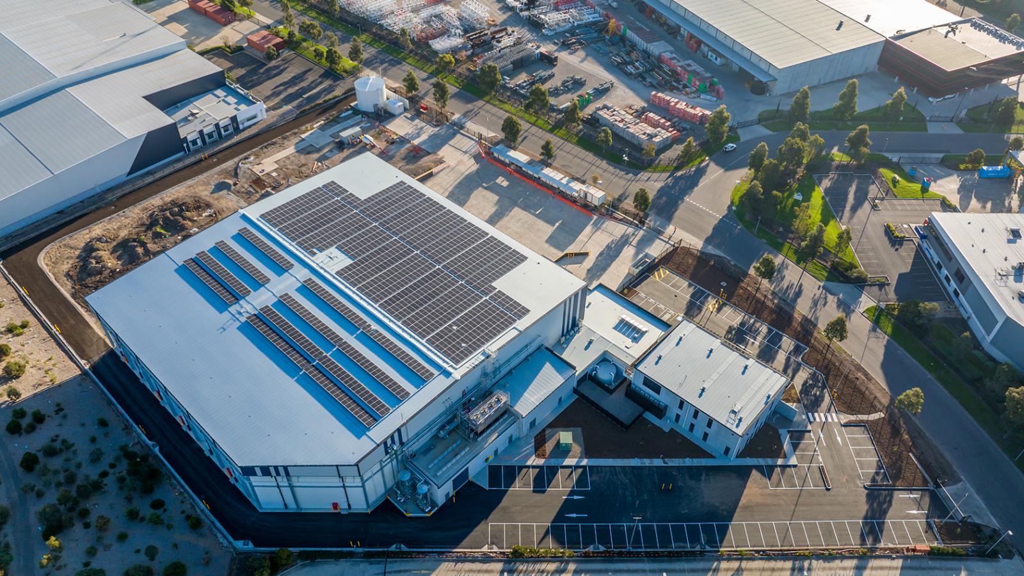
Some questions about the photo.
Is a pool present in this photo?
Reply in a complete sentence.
No, the picture doesn't show any pool.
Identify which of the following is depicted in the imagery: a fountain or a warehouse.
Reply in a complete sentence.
Looking from above, you can make out a warehouse.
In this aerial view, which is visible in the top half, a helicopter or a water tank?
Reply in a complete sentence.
You can see a water tank in the top half.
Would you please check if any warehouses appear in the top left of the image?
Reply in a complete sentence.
Yes, you'll find a warehouse in the top left of the image.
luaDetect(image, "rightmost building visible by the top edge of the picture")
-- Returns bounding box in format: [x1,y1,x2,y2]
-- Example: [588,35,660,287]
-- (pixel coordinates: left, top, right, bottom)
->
[876,15,1024,102]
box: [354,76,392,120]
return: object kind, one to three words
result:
water tank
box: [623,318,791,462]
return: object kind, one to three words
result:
building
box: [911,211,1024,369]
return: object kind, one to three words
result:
warehouse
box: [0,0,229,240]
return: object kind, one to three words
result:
warehouse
